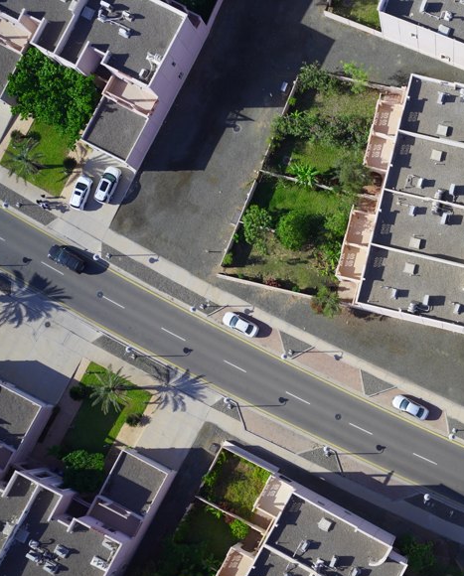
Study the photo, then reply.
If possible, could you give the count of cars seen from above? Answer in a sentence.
Looking from above, you can make out 5 cars.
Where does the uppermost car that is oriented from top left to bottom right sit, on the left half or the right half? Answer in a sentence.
The uppermost car that is oriented from top left to bottom right is on the left side of the image.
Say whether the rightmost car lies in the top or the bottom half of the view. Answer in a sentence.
The rightmost car is in the bottom half of the image.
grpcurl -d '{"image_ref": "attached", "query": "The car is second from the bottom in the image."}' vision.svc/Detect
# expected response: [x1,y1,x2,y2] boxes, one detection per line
[223,310,260,338]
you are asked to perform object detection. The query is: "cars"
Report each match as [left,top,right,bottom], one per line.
[95,166,123,205]
[49,244,90,275]
[69,174,94,210]
[391,395,430,420]
[223,310,260,338]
